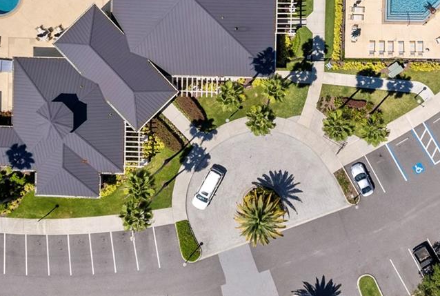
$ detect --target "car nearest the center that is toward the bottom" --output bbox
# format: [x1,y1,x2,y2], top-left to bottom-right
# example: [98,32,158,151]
[194,167,223,208]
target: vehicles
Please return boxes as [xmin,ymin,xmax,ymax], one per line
[414,243,440,290]
[350,162,374,201]
[194,167,223,208]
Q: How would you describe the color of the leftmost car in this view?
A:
white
